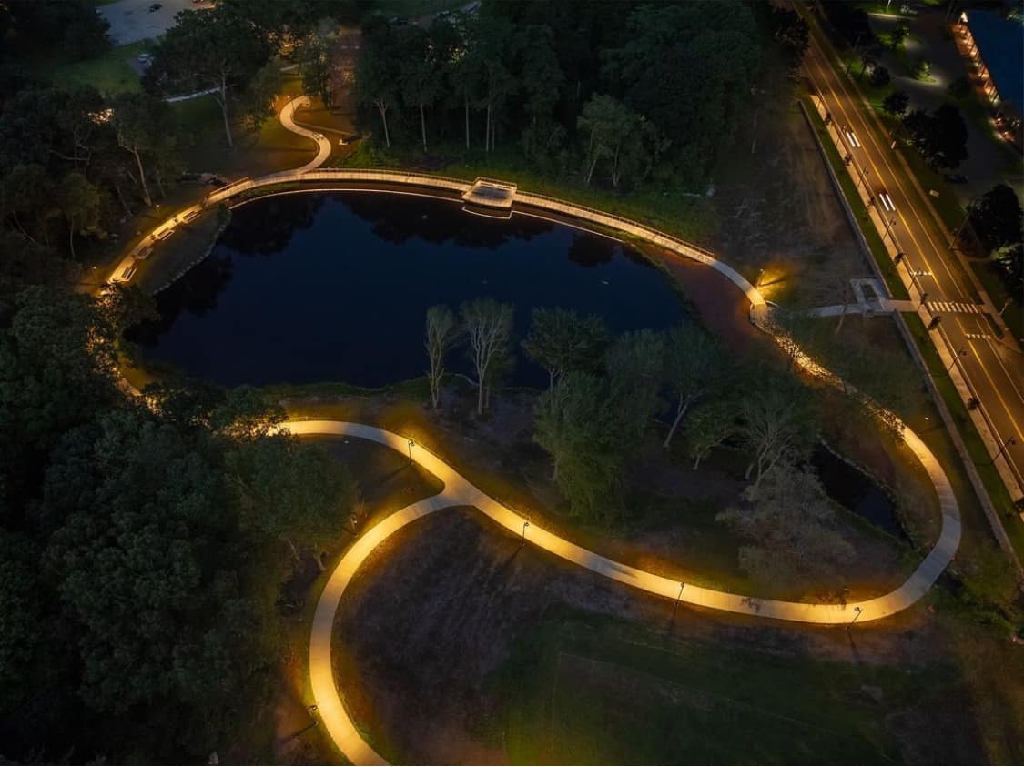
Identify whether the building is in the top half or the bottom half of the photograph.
top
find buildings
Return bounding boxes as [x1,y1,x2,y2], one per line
[960,10,1024,122]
